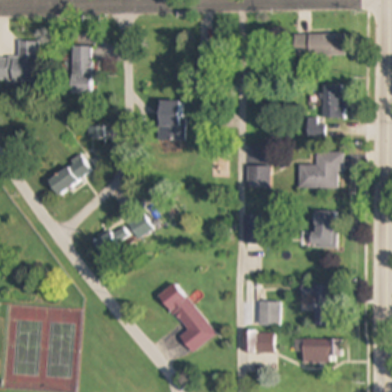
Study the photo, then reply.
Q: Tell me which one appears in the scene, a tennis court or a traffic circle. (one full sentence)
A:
It is a tennis court that can be seen here.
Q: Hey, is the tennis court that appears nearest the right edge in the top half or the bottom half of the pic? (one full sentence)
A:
Seen from above, the tennis court that appears nearest the right edge lies in the bottom half of the view.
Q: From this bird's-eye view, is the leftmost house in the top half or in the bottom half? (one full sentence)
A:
It is in the top half that the leftmost house appears.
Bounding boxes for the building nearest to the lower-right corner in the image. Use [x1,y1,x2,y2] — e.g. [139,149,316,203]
[296,338,346,369]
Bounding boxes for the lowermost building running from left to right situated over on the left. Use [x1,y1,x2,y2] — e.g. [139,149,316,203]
[99,216,153,242]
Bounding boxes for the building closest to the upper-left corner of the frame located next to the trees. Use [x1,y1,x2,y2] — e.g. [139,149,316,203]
[0,40,42,82]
